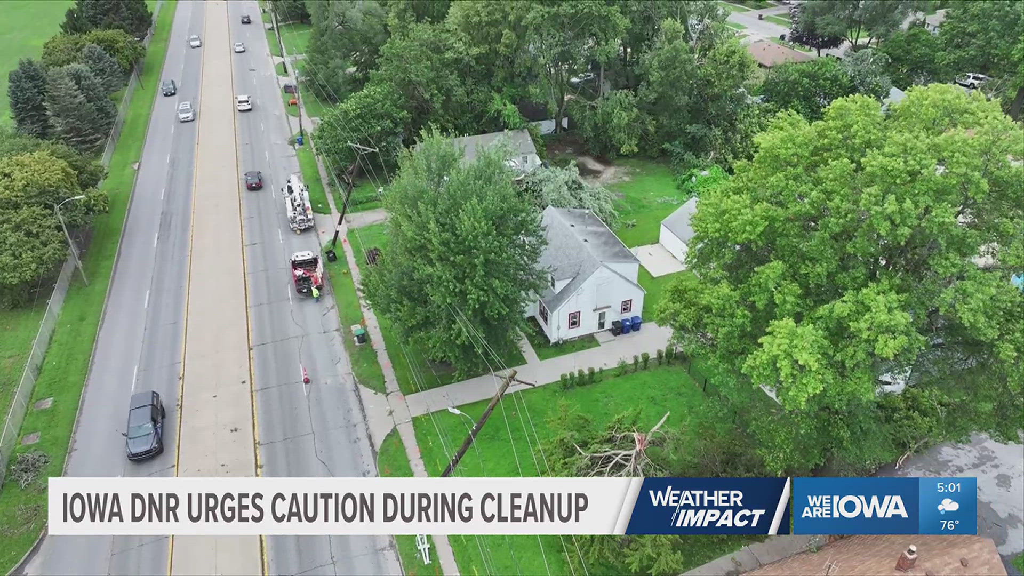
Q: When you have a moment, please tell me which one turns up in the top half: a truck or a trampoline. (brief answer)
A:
truck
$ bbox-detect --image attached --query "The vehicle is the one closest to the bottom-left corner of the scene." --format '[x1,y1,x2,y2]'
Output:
[122,386,167,459]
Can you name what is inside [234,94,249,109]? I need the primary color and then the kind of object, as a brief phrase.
white car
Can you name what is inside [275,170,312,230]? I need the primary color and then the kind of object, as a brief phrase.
white truck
